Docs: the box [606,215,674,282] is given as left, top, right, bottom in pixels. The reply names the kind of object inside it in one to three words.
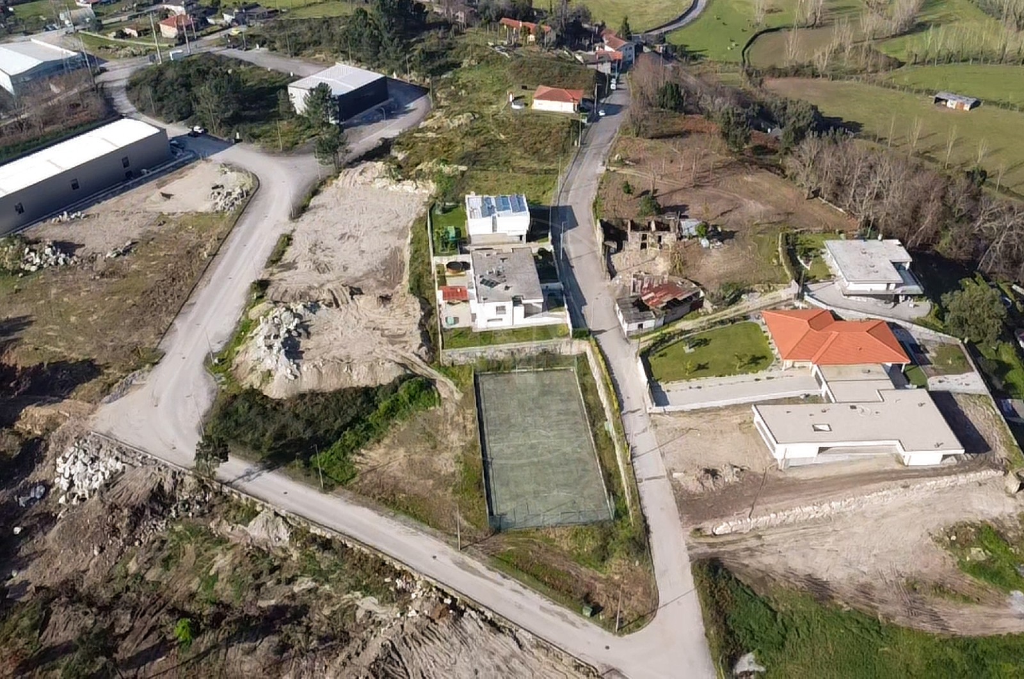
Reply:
house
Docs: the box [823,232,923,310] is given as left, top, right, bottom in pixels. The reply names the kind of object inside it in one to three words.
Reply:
house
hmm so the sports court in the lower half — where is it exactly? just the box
[475,367,612,529]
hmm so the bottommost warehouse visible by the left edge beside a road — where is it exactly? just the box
[0,117,170,238]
